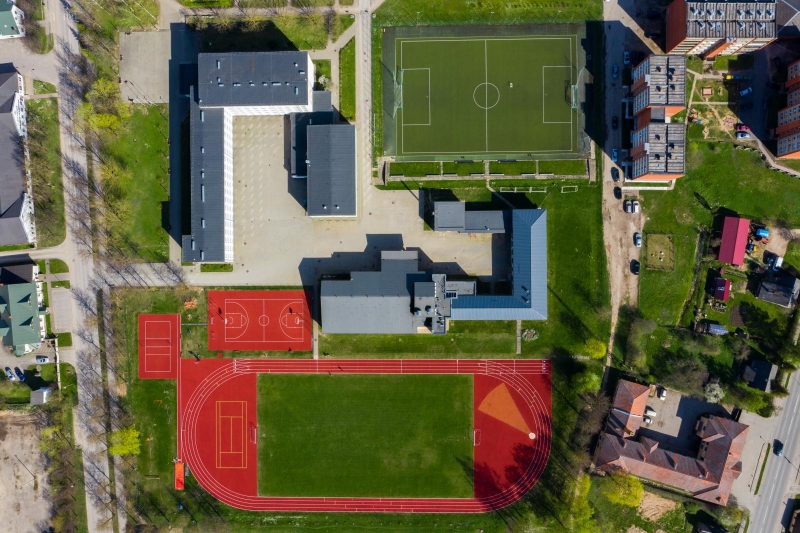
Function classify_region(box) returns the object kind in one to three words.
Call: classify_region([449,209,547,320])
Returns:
building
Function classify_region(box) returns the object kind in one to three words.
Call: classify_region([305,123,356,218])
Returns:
building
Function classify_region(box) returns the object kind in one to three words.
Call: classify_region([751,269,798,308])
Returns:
house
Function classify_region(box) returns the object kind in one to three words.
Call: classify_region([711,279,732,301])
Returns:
shed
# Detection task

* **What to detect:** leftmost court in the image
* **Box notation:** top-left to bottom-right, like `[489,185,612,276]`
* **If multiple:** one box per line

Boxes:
[138,314,177,379]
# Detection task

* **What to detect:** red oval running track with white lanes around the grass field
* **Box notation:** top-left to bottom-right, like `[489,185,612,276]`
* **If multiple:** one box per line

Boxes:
[181,360,552,513]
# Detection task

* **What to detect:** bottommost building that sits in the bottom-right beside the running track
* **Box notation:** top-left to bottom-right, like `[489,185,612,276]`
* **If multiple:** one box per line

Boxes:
[592,378,749,506]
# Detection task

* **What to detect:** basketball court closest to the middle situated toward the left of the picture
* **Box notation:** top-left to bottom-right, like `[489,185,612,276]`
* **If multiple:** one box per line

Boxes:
[208,291,312,350]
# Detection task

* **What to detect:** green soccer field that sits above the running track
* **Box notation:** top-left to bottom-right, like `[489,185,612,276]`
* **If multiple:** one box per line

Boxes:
[384,24,586,161]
